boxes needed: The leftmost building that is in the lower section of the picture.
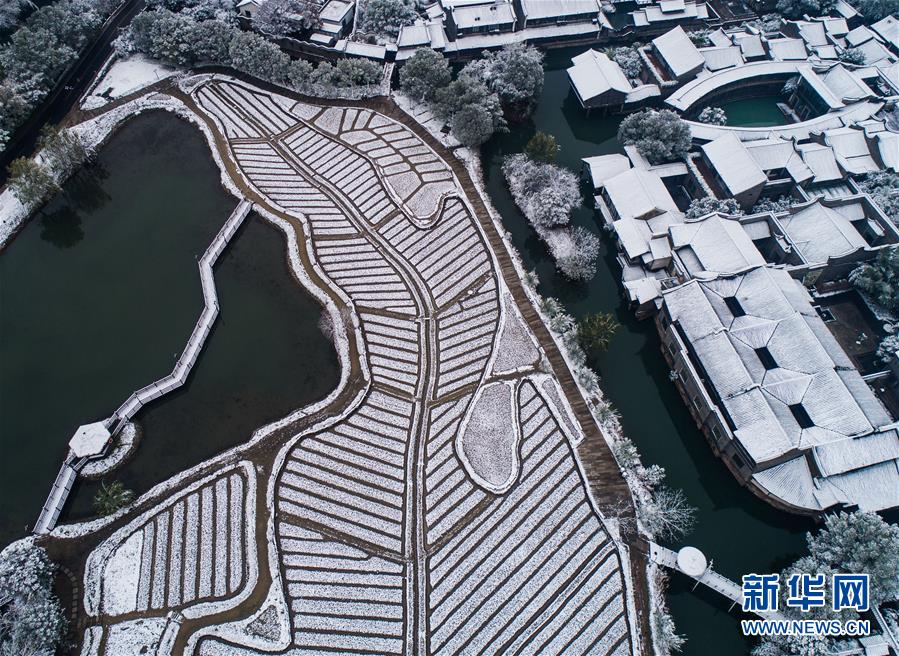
[68,422,125,471]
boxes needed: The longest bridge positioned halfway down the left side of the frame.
[97,192,254,435]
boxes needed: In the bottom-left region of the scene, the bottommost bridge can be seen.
[25,440,83,532]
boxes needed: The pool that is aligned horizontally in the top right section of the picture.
[688,91,795,127]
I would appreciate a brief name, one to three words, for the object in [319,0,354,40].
house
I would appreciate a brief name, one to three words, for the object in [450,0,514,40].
building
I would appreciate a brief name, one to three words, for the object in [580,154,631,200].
building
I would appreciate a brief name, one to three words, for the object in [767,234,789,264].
shed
